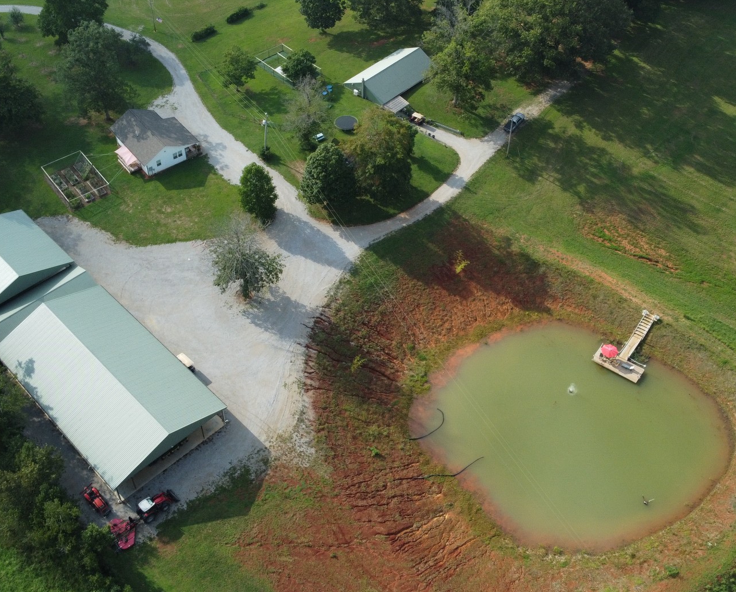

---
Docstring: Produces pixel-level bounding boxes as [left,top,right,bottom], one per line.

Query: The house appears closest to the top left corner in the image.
[110,110,200,176]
